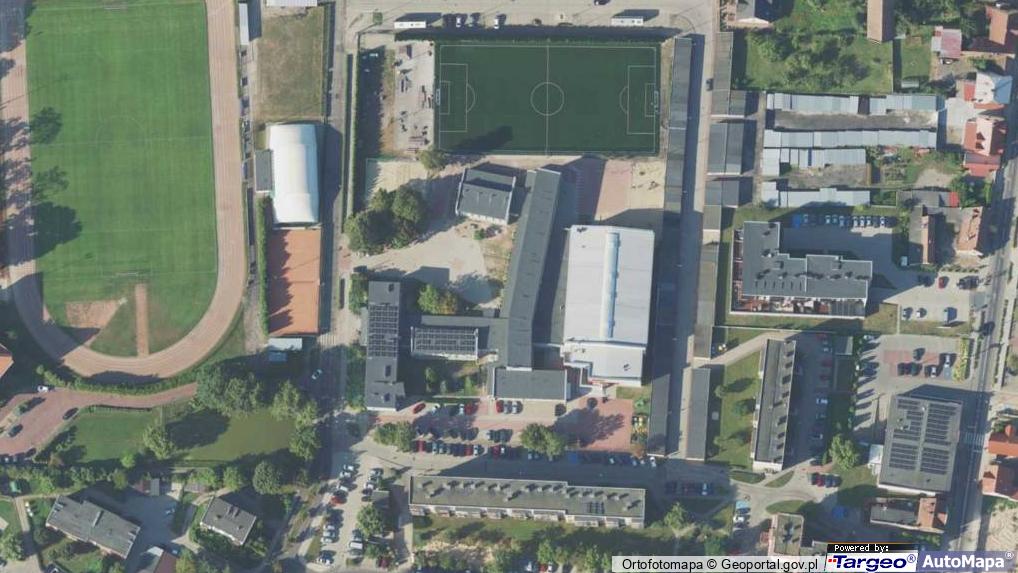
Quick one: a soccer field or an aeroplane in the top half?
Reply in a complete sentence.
There is a soccer field in the top half.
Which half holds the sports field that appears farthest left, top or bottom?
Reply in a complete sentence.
You can find the sports field that appears farthest left in the top half.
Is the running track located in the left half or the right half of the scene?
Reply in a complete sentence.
You can find the running track on the left side of the picture.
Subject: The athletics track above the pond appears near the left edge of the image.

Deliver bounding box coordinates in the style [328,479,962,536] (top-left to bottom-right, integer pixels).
[0,0,245,386]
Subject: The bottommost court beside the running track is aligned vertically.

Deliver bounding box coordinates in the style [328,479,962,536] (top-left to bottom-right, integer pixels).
[268,228,320,334]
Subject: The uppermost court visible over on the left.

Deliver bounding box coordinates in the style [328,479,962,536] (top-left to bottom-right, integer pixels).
[364,156,427,214]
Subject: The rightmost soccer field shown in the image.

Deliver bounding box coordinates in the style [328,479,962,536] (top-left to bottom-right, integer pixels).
[434,42,659,154]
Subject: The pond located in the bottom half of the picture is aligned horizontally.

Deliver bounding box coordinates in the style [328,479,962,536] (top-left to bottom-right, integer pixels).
[158,409,297,464]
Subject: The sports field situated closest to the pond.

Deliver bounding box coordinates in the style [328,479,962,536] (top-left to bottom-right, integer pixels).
[26,0,217,358]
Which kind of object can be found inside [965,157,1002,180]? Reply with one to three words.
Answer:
shed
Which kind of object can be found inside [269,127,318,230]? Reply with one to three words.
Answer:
building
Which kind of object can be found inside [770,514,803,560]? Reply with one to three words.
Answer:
building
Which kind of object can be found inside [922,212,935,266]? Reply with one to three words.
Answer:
house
